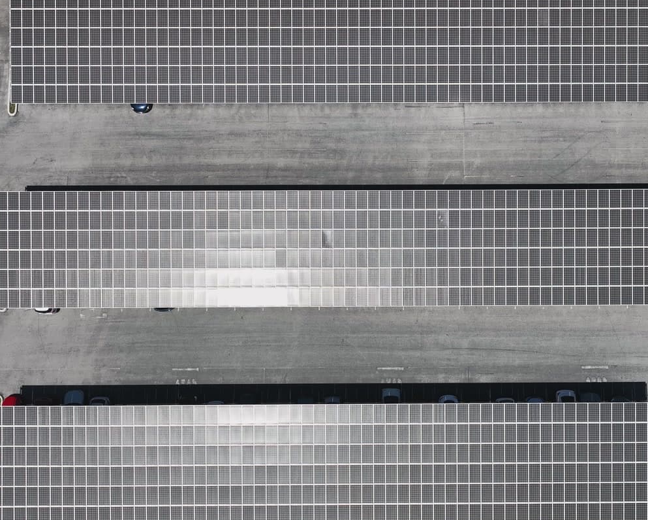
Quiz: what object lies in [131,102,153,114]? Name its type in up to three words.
vehicle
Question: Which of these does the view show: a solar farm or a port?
solar farm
